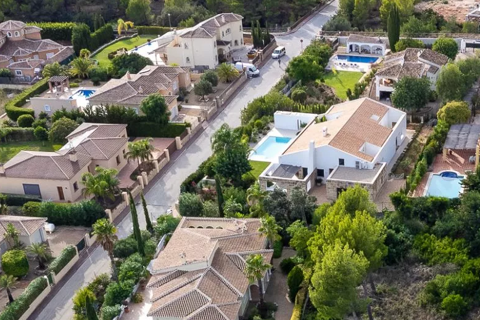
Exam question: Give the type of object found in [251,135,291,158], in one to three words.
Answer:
swimming pool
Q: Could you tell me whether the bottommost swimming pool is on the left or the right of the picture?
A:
right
